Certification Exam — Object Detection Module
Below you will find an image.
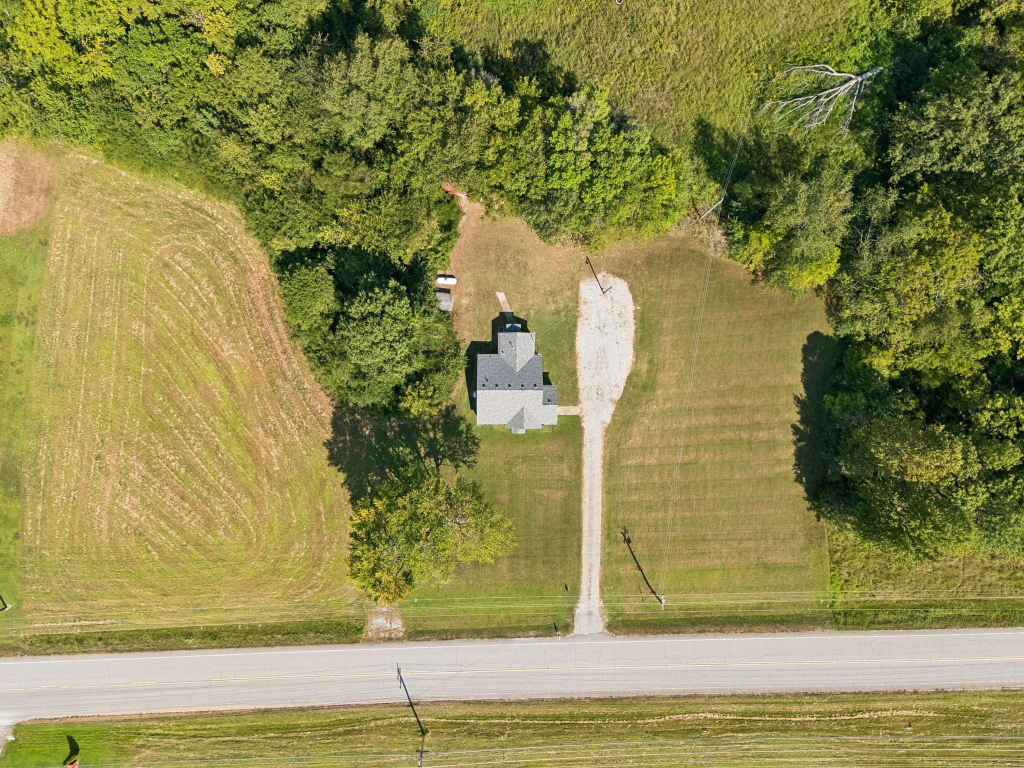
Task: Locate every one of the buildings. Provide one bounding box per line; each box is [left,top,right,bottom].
[476,324,559,433]
[436,288,453,311]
